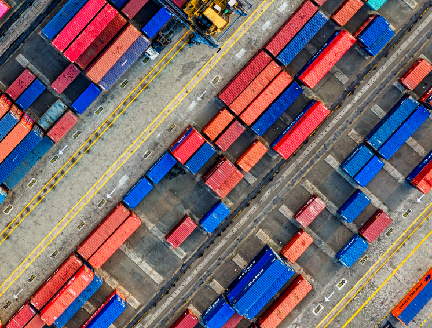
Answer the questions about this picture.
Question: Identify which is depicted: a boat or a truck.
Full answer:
I can see a truck in this picture.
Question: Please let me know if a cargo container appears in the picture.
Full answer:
Yes, the image includes a cargo container.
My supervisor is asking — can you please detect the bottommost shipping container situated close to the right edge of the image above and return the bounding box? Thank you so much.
[393,269,432,326]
